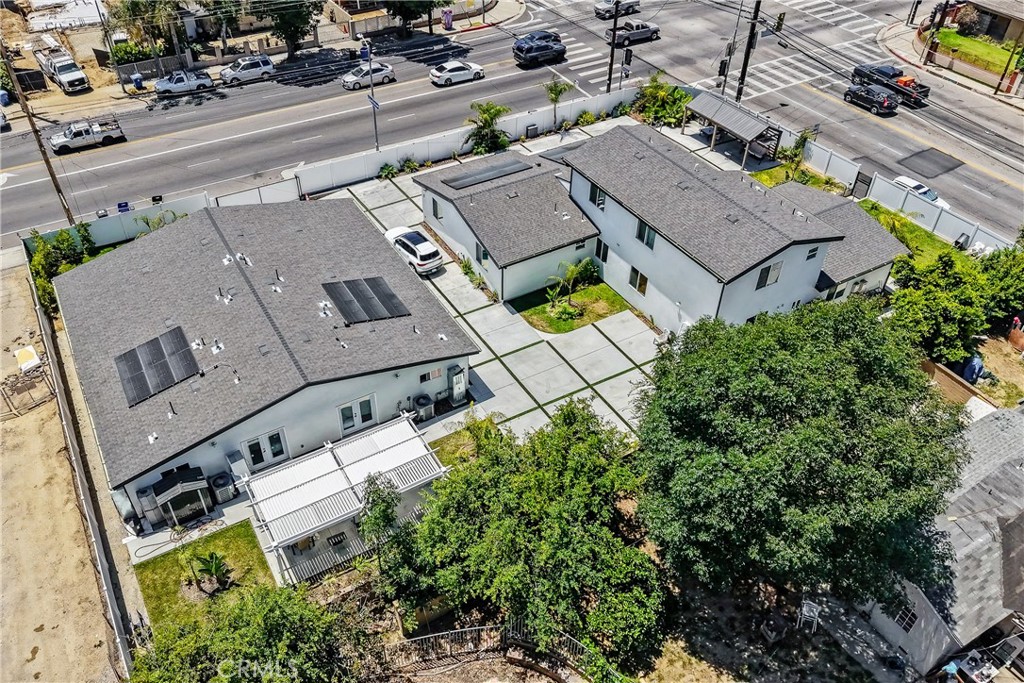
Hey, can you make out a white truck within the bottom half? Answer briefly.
No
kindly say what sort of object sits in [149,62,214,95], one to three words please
truck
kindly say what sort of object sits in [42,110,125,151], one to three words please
truck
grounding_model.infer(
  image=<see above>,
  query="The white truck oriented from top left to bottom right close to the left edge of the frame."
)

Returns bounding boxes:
[35,33,90,91]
